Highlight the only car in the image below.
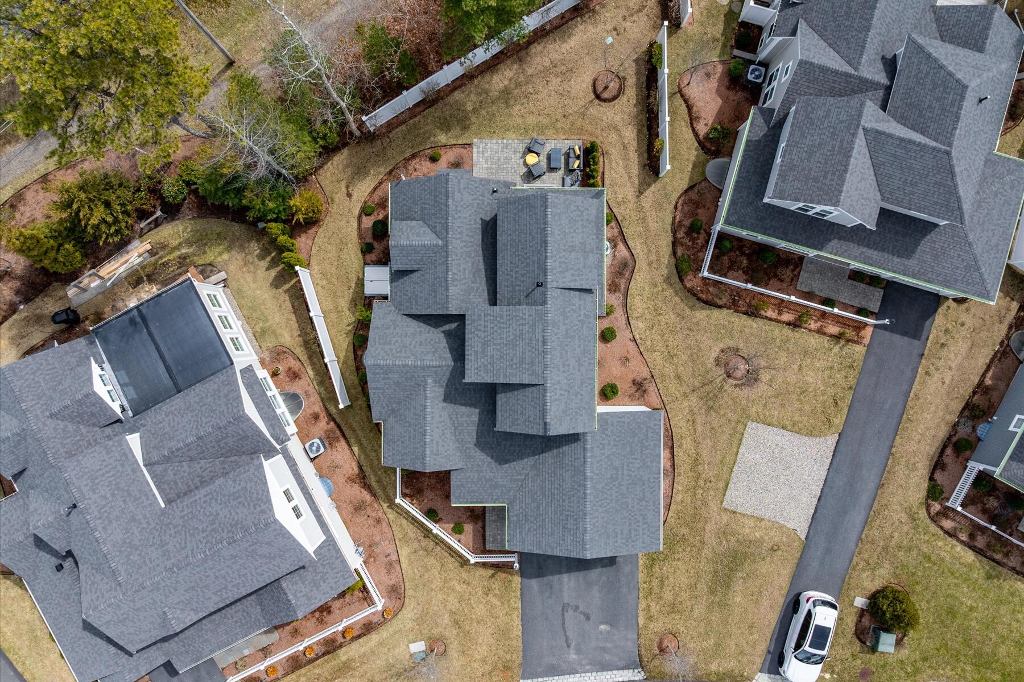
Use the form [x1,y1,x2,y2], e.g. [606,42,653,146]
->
[778,592,842,682]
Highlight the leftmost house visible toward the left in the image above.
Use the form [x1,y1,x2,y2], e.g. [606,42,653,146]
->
[0,274,362,682]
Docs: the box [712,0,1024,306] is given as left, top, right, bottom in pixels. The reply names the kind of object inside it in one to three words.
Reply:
house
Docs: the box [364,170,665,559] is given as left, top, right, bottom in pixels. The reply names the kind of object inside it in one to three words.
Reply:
house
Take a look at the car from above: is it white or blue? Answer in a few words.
white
